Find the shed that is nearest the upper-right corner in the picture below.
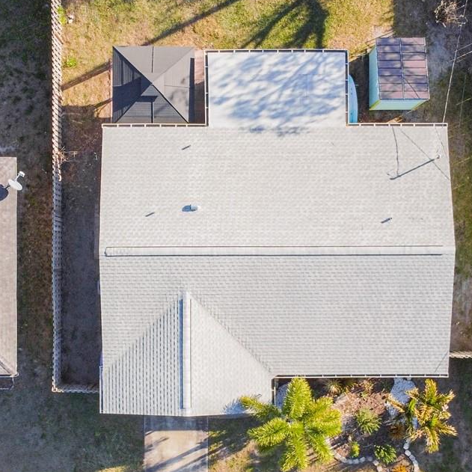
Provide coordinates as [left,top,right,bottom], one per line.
[367,36,431,111]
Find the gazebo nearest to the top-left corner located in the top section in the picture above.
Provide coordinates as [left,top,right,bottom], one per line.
[112,46,194,123]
